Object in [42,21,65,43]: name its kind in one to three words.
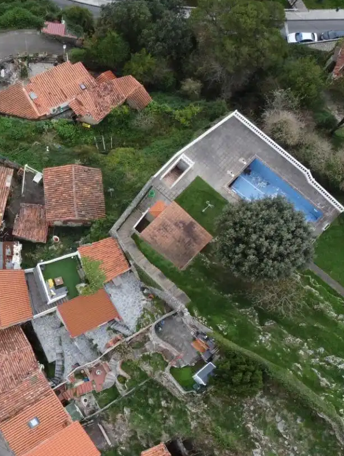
shed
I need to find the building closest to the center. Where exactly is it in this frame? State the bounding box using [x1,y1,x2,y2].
[139,201,213,271]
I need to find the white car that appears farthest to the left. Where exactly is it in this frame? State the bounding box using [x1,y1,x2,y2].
[285,31,318,43]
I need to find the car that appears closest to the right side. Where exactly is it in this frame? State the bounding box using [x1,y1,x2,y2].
[319,27,344,42]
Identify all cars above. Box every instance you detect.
[285,31,318,43]
[319,27,344,42]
